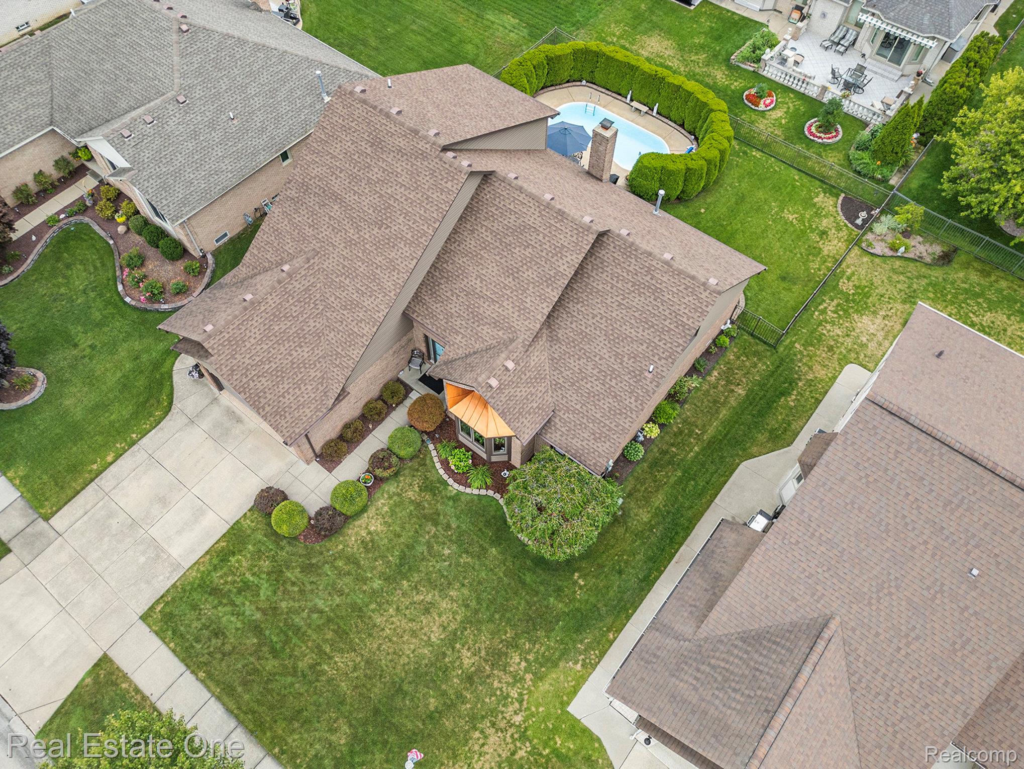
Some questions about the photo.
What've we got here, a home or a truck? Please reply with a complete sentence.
I can see a home in this picture.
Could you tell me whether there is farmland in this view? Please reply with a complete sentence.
No, the picture contains no farmland.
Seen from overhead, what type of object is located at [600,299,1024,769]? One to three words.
house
